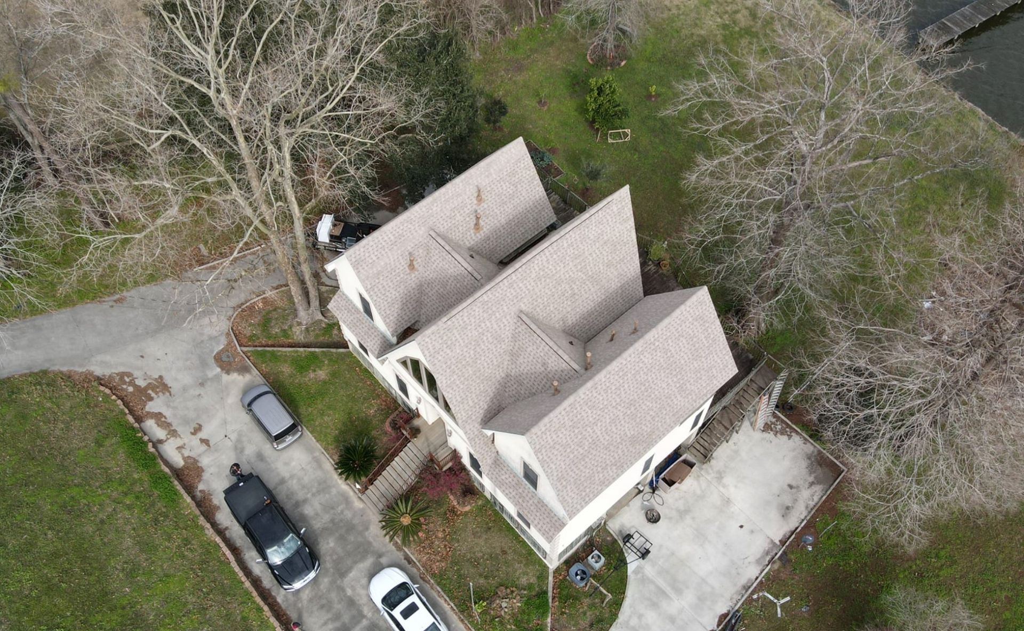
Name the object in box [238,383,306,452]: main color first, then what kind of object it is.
gray car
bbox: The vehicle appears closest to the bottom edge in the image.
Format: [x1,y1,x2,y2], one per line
[370,566,453,631]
